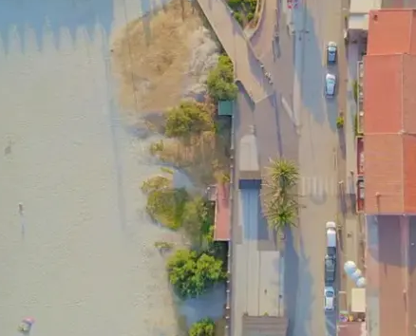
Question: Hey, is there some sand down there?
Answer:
Yes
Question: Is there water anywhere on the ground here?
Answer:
No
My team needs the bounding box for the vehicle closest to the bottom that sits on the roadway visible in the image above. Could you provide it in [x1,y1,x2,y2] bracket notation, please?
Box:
[323,287,336,312]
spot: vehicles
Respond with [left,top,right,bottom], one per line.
[325,223,338,249]
[324,249,338,283]
[325,74,337,98]
[323,287,336,312]
[326,42,338,64]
